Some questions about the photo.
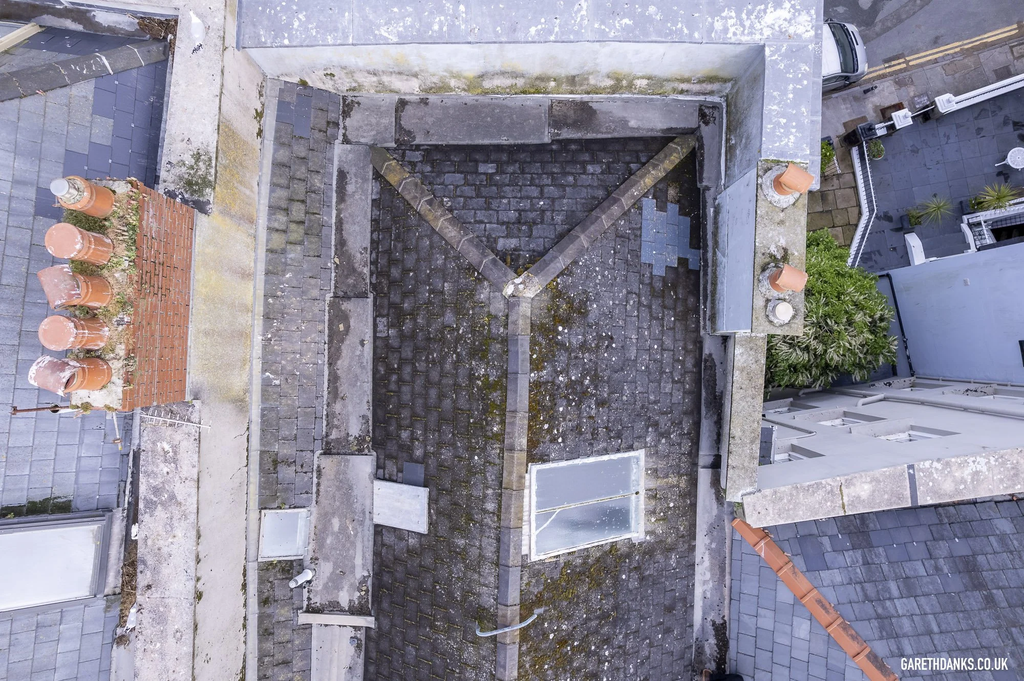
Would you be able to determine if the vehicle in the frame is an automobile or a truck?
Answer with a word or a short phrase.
automobile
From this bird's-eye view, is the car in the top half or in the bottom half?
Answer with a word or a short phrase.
top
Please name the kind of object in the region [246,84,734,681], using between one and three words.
house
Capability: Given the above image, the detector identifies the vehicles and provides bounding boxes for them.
[820,21,869,102]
